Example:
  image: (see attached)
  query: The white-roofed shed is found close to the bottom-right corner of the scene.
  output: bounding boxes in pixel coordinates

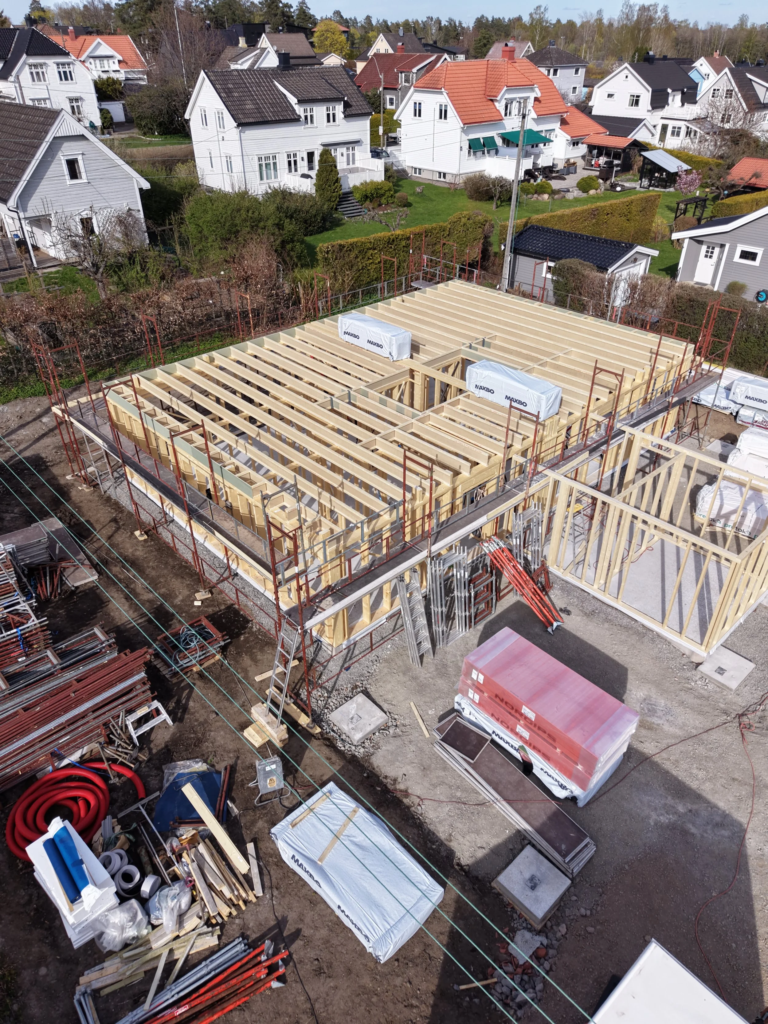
[593,940,749,1024]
